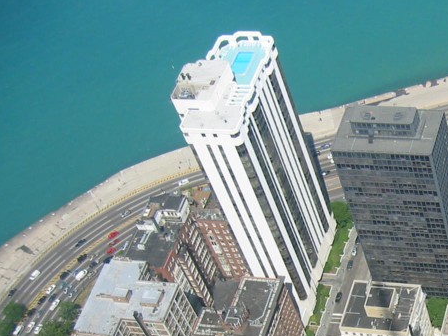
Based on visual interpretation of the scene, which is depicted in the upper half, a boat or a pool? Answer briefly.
pool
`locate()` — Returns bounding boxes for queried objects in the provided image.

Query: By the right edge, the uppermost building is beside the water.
[330,103,448,302]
